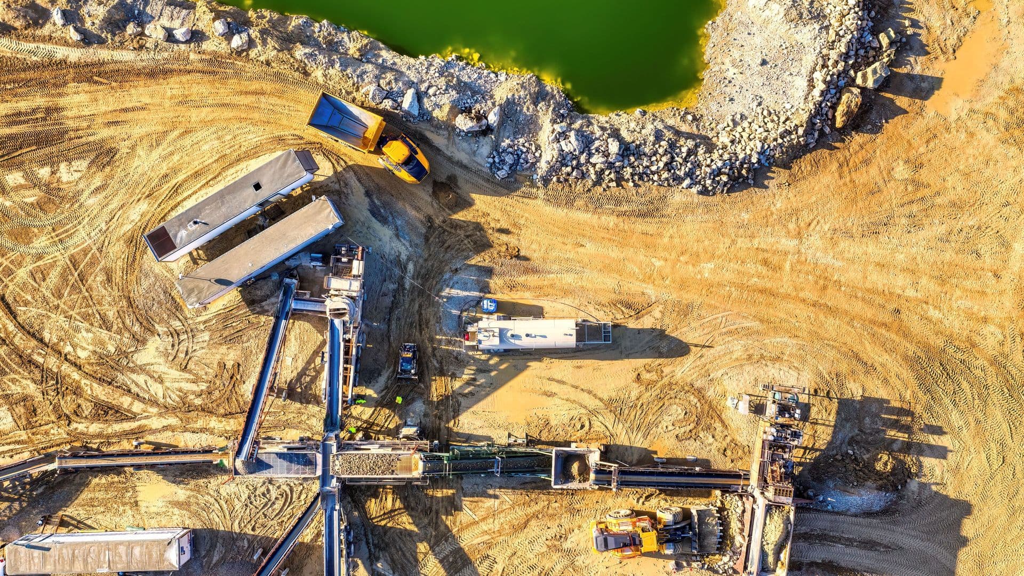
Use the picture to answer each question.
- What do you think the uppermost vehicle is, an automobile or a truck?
truck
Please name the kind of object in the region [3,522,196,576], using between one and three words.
trailer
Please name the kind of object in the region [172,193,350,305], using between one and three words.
trailer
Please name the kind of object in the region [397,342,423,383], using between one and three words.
work vehicle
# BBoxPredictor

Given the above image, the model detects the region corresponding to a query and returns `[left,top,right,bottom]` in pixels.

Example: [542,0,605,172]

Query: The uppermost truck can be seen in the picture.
[305,88,428,184]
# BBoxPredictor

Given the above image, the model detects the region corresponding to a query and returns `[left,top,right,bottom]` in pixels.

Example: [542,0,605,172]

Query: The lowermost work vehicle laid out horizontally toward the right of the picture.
[588,501,725,558]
